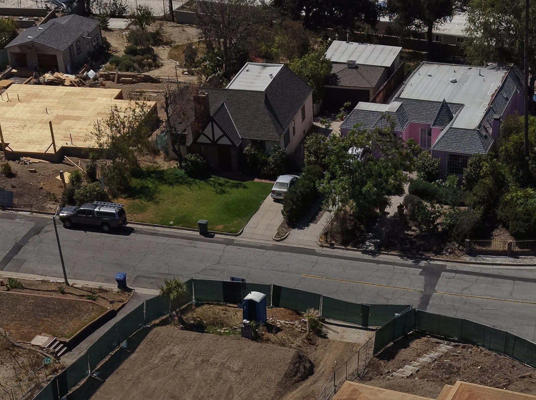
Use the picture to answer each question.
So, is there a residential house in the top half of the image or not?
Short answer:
Yes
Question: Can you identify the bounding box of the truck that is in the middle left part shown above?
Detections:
[58,201,126,232]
